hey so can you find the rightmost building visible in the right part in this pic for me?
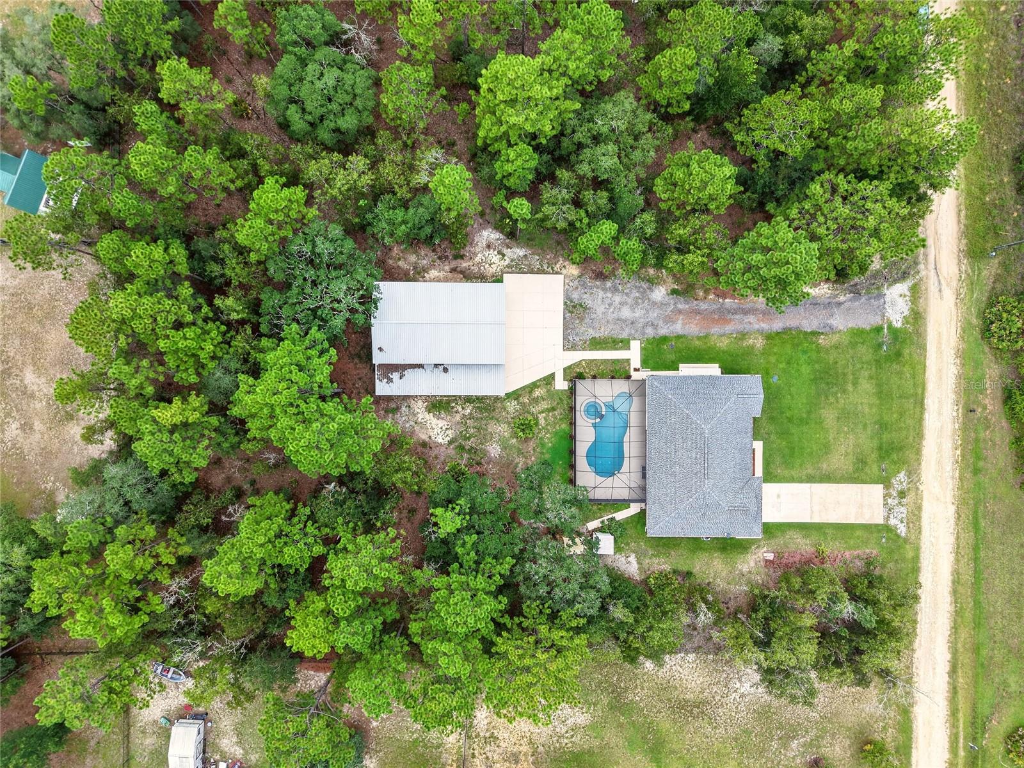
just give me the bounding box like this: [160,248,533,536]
[645,375,766,538]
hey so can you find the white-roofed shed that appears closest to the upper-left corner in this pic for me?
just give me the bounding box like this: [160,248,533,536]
[371,281,506,395]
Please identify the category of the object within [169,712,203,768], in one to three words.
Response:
trailer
